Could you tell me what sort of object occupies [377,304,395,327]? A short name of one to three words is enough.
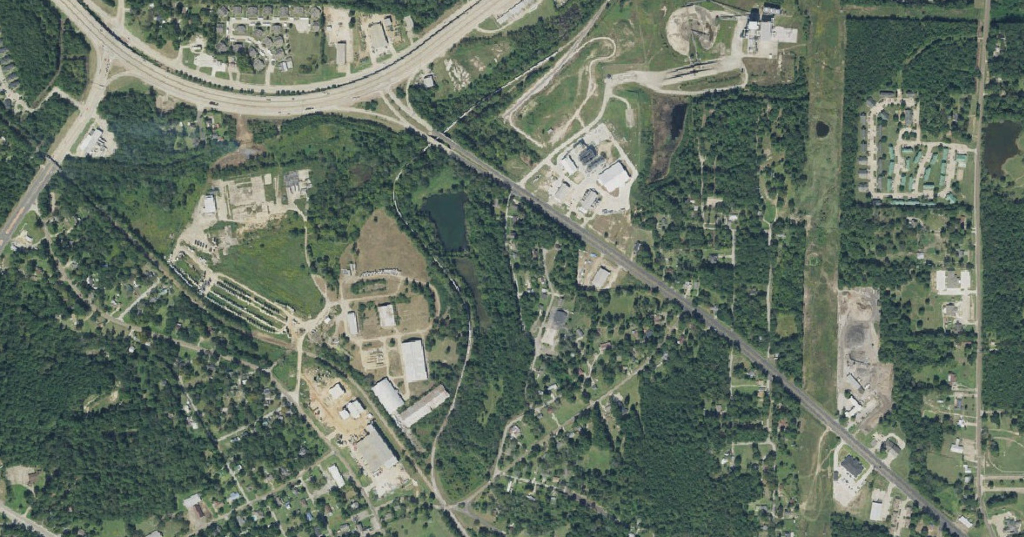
building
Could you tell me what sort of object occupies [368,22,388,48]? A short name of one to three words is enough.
building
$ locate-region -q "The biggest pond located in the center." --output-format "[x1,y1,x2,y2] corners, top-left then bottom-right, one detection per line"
[422,191,468,251]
